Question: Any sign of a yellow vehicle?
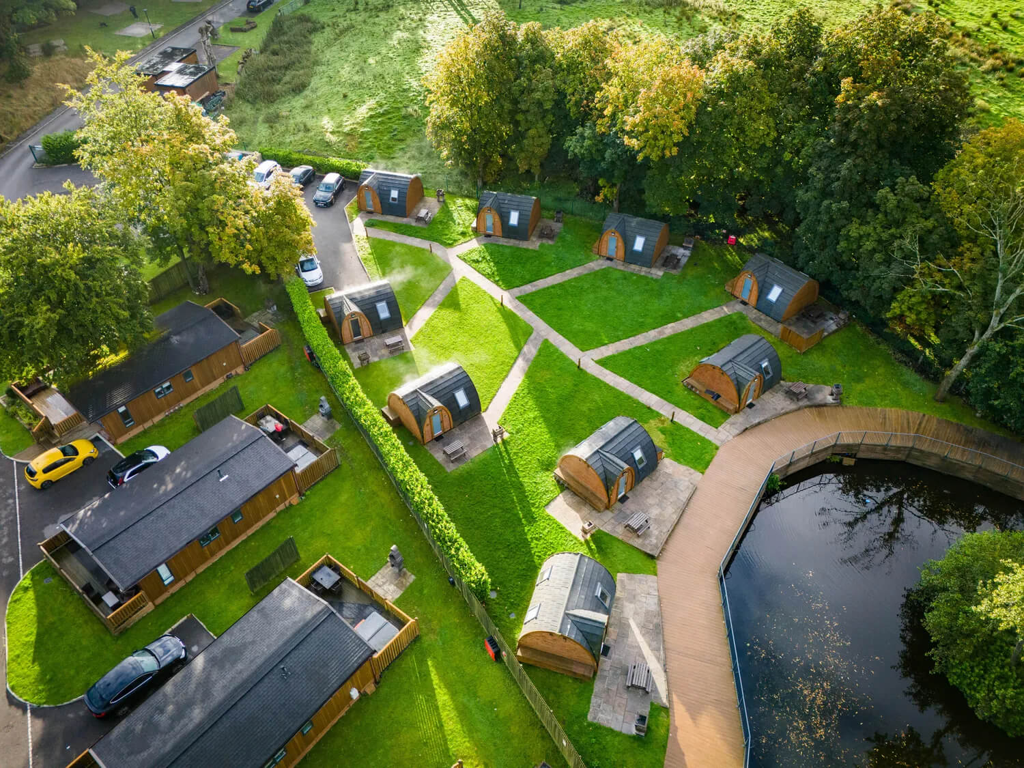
Yes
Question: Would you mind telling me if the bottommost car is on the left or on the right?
left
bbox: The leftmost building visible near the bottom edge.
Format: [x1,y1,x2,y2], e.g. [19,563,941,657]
[89,578,377,768]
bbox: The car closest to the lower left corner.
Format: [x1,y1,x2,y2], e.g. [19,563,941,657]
[88,634,191,710]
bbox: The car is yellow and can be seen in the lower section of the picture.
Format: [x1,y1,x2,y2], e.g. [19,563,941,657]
[28,439,98,486]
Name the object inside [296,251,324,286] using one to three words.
car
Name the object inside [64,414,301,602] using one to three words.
building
